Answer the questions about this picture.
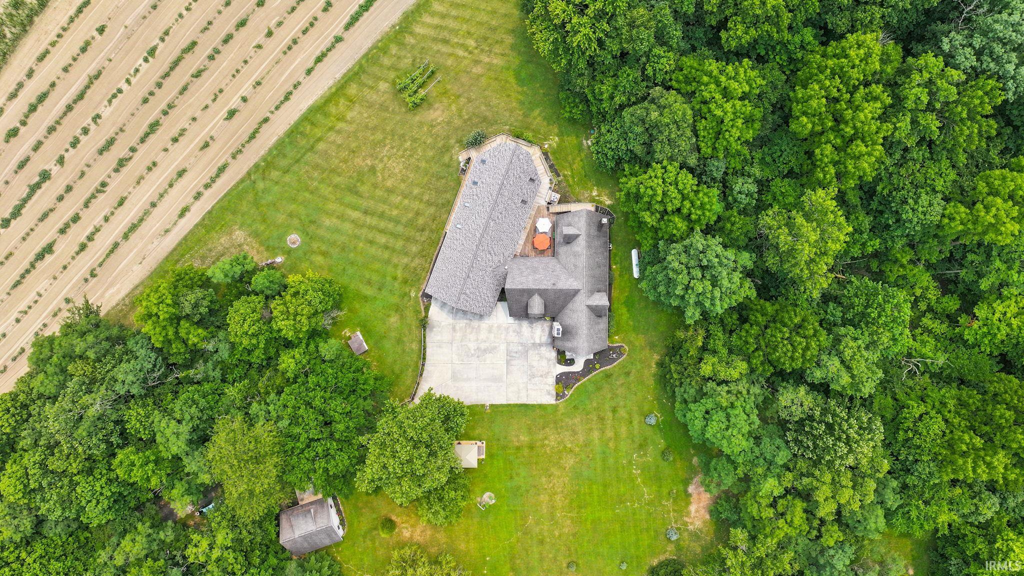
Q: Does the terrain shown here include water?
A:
No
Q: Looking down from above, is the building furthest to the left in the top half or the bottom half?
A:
bottom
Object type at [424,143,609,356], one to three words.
house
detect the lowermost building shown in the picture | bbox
[280,493,345,556]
